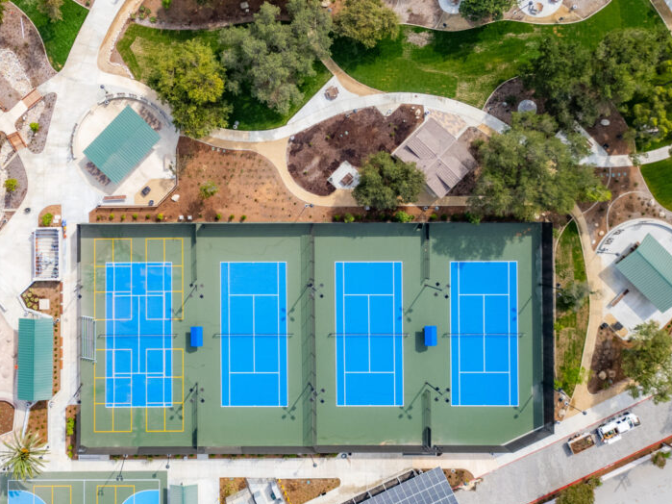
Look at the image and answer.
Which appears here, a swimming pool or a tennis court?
tennis court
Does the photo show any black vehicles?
No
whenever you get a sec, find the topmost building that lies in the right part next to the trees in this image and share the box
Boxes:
[393,118,477,198]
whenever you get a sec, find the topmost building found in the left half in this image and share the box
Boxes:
[83,104,160,184]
